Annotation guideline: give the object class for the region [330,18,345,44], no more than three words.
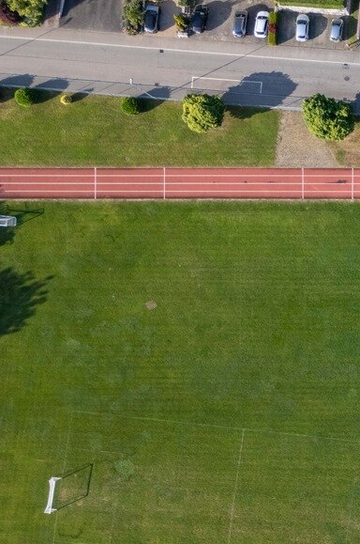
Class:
car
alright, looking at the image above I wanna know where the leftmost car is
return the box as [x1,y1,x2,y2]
[143,3,160,34]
